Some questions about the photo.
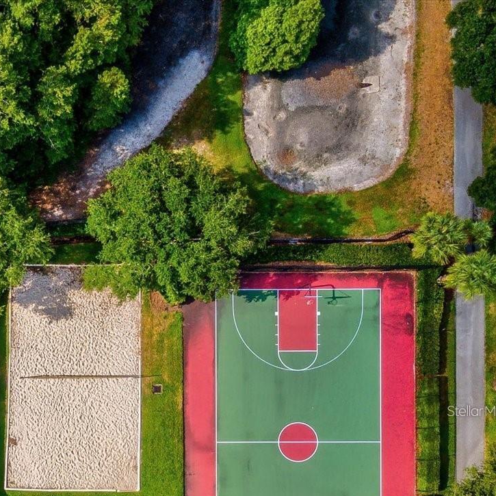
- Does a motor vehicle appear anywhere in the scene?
No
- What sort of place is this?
sports ground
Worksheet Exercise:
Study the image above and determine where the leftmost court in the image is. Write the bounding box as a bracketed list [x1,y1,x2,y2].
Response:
[4,264,142,494]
